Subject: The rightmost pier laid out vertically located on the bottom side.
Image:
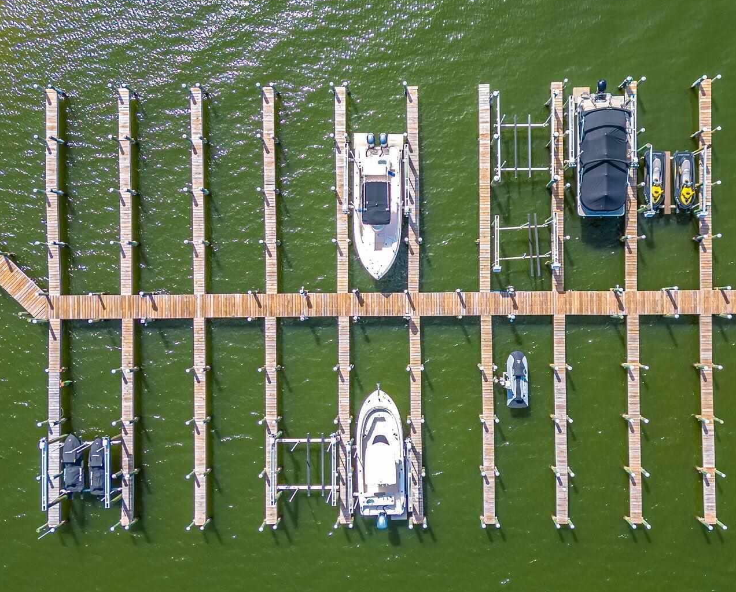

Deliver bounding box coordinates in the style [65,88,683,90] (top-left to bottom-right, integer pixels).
[692,315,727,529]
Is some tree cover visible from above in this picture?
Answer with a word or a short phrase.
No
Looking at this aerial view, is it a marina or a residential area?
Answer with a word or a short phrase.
marina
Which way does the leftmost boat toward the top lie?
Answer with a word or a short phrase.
from top to bottom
